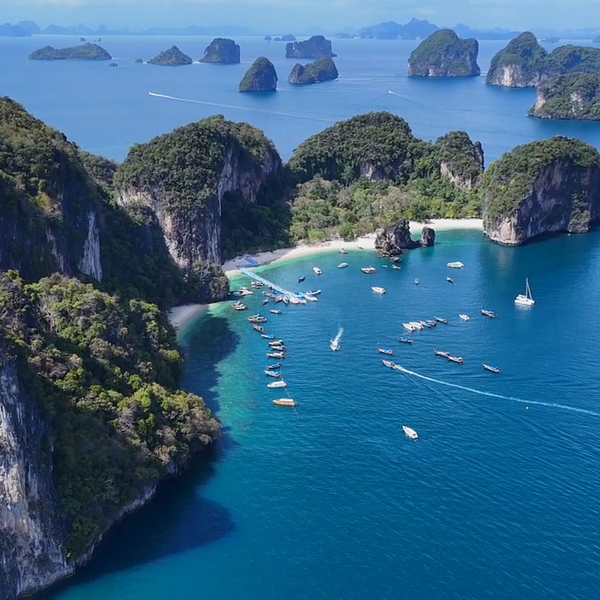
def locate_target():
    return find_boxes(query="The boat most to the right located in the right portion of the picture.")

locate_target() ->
[516,283,535,305]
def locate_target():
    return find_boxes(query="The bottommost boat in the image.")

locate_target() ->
[404,424,419,439]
